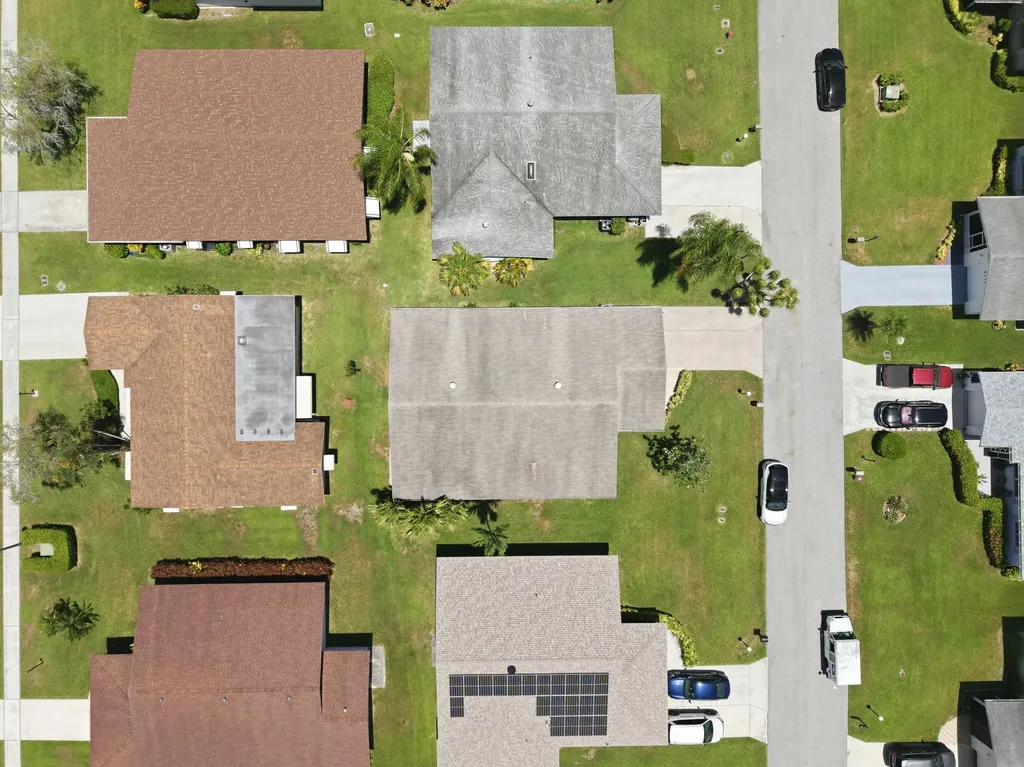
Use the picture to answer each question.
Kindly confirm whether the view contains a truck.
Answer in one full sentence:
Yes, there's a truck down there.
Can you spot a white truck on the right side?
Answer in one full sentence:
Yes, I can see a white truck on the right side.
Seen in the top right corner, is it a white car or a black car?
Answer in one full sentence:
What appears in the top right corner is a black car.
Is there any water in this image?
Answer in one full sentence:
No, the picture contains no water.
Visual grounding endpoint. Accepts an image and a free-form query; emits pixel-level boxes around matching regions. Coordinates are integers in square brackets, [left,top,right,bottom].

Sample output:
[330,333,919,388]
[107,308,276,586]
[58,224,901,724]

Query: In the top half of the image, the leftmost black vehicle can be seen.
[814,48,849,114]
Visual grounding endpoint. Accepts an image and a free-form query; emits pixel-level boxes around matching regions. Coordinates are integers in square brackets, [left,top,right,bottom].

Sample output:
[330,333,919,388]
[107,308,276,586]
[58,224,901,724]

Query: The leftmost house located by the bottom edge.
[90,580,370,767]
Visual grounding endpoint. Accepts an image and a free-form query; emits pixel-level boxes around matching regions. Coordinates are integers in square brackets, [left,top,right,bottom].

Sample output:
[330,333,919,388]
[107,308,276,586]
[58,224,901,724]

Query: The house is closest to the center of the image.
[387,307,666,500]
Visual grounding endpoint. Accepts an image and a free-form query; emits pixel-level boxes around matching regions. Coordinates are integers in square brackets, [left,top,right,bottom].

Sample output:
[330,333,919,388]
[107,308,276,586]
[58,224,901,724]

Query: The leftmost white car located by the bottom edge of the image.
[667,712,724,747]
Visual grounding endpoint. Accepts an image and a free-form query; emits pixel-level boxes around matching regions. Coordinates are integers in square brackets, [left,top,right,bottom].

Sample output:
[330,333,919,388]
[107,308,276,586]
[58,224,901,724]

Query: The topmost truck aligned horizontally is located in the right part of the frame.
[873,359,952,393]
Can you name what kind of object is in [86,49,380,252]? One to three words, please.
house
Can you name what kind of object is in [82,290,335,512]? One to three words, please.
house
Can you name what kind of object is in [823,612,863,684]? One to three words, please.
truck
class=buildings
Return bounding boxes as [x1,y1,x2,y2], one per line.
[82,290,335,512]
[964,142,1024,326]
[434,554,669,767]
[428,27,662,260]
[961,0,1024,89]
[90,580,370,767]
[86,49,380,252]
[971,628,1024,767]
[387,307,666,500]
[965,371,1024,579]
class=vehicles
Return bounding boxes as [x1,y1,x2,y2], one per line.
[667,669,730,702]
[873,359,952,393]
[871,399,947,431]
[757,461,791,525]
[814,48,849,114]
[880,741,956,767]
[667,712,724,747]
[823,612,863,684]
